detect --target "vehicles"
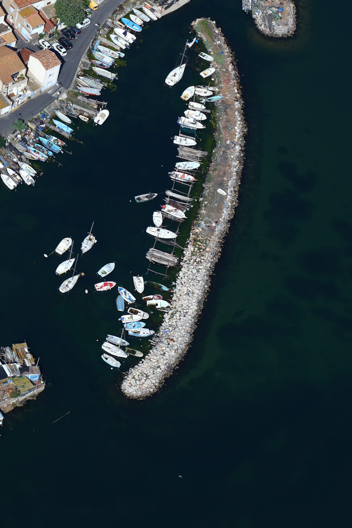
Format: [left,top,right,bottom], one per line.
[53,44,67,57]
[87,0,103,13]
[69,26,82,36]
[75,19,91,29]
[61,28,76,40]
[58,37,73,50]
[37,39,53,51]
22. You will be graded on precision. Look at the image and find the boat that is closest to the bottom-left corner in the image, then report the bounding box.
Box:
[100,353,120,367]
